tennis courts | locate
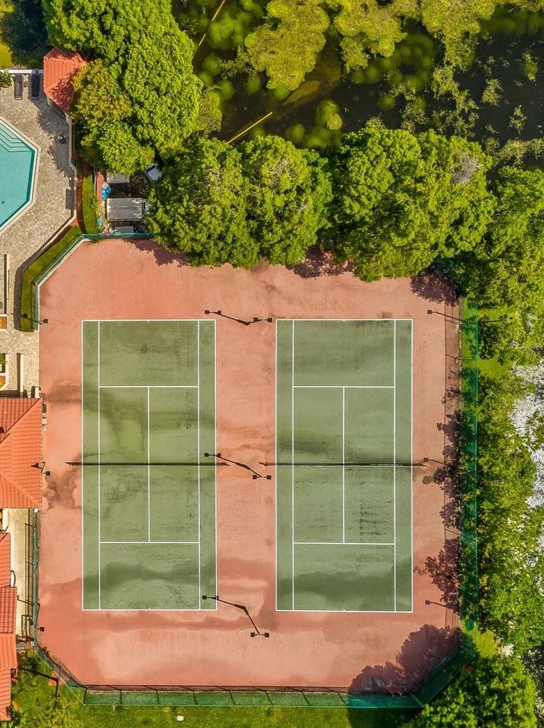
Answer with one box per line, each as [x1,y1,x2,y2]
[73,319,228,611]
[268,319,430,612]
